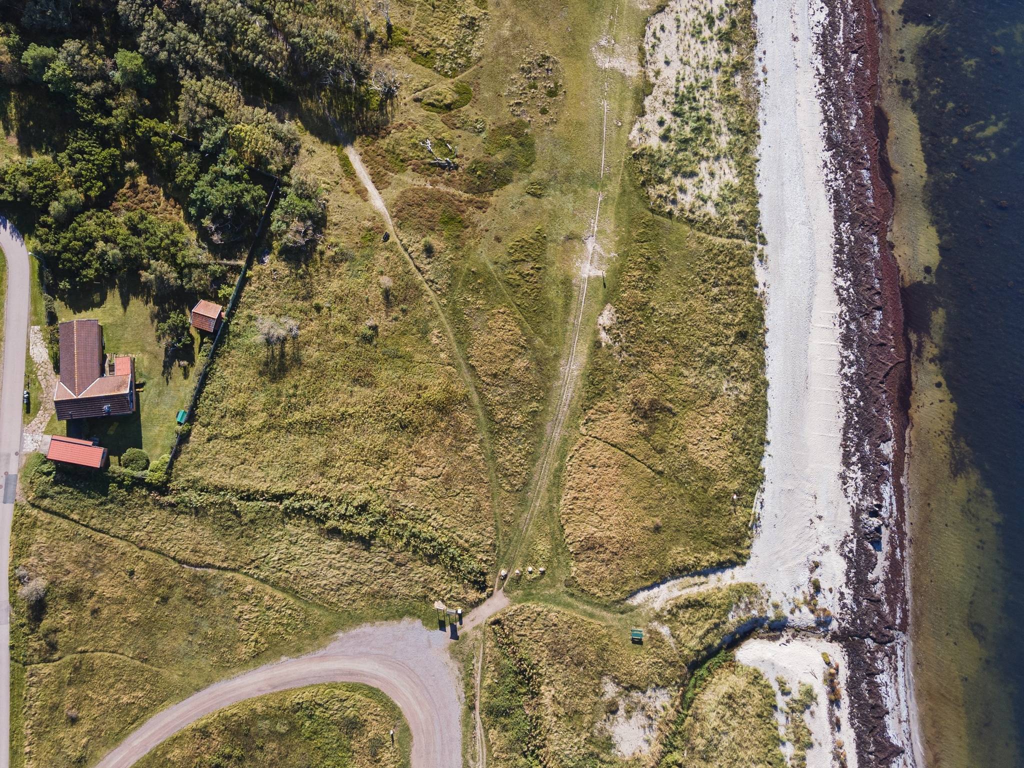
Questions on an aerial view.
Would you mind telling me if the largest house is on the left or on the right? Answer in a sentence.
The largest house appears in the left half of the scene.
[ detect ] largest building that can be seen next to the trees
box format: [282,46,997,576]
[53,319,140,420]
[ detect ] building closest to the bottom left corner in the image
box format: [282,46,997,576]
[46,435,111,468]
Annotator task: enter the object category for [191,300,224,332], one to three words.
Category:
shed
